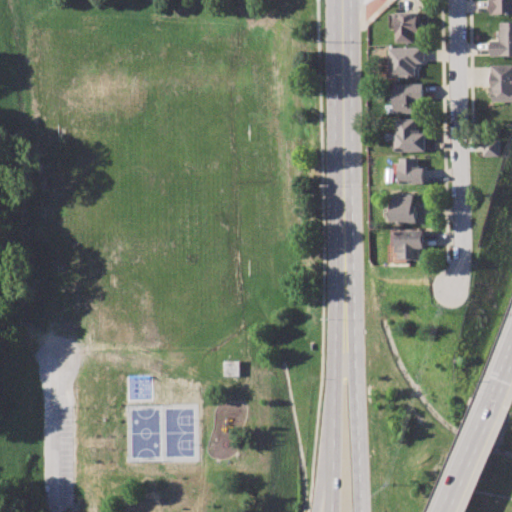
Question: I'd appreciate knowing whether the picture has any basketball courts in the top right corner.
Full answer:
No, I see no basketball court in the top right corner.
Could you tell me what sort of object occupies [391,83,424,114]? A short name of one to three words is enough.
house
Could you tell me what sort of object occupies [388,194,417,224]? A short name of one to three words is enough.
house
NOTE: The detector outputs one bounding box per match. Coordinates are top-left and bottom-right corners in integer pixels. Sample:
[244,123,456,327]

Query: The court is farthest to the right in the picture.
[166,410,194,457]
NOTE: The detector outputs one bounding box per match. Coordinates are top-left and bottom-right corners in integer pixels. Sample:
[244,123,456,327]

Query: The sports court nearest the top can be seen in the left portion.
[130,376,152,400]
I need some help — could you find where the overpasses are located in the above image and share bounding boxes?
[425,298,512,512]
